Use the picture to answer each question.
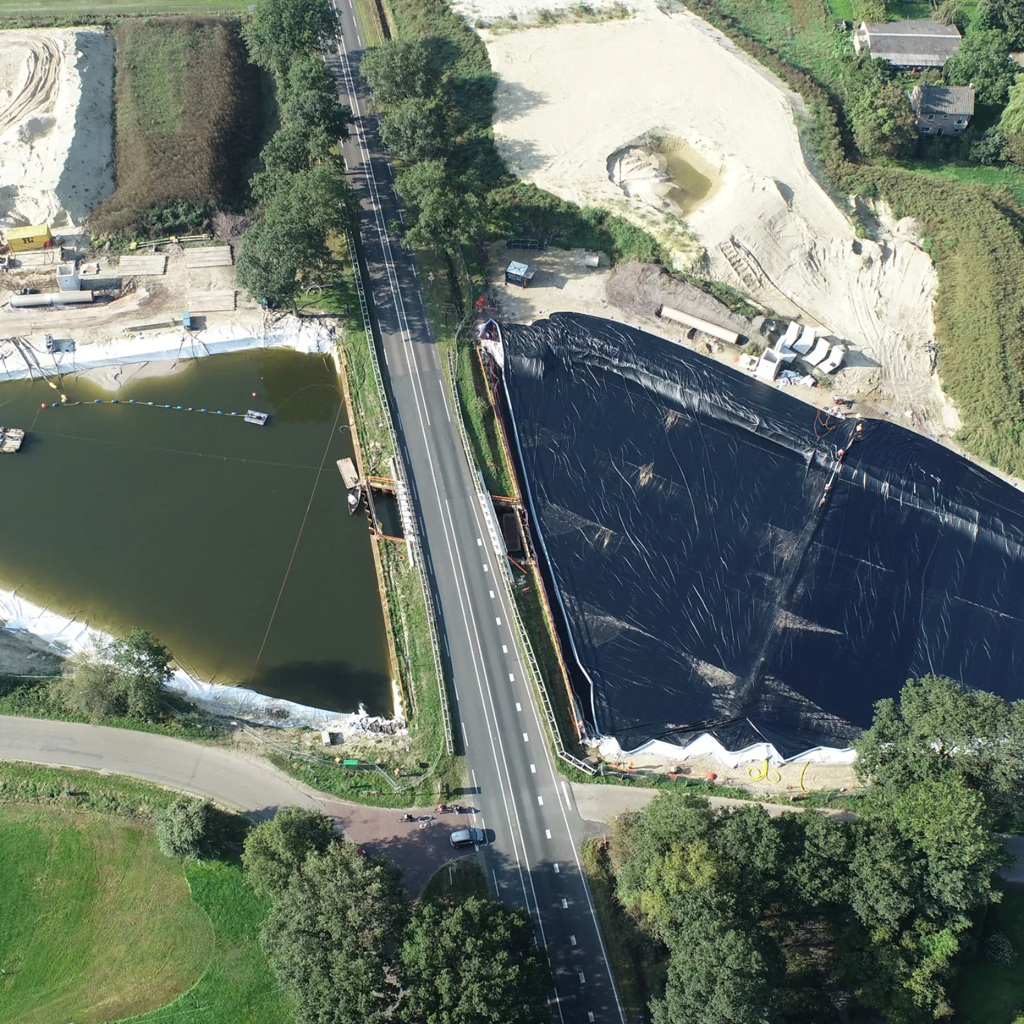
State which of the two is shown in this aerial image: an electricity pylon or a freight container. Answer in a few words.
freight container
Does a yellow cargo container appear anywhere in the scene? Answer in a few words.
Yes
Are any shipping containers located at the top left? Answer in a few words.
Yes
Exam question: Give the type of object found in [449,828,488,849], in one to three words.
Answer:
car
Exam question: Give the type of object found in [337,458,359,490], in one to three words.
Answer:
ship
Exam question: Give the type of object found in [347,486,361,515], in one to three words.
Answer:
boat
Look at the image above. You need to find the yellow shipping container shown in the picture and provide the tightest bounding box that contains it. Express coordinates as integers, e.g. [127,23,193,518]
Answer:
[2,222,49,250]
